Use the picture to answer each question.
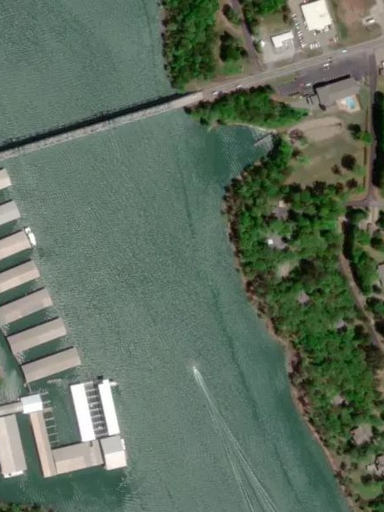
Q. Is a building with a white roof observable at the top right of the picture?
Yes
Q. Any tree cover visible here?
Yes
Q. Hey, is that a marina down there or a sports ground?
marina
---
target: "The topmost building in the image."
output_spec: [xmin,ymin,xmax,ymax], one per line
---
[300,0,333,30]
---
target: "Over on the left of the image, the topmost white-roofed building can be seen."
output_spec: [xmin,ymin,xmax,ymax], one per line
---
[20,393,42,413]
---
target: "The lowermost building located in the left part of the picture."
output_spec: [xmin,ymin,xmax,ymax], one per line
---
[99,433,126,471]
